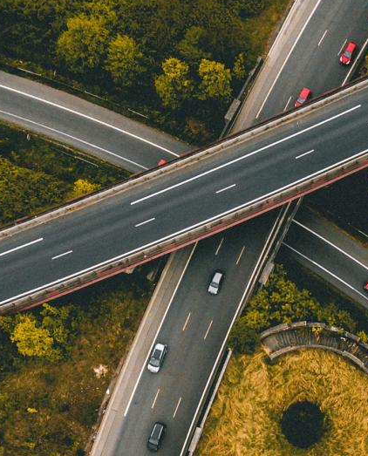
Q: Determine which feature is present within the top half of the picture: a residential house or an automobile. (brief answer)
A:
automobile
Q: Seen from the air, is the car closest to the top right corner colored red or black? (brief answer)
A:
red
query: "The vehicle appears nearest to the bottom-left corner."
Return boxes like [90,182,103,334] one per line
[145,419,166,453]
